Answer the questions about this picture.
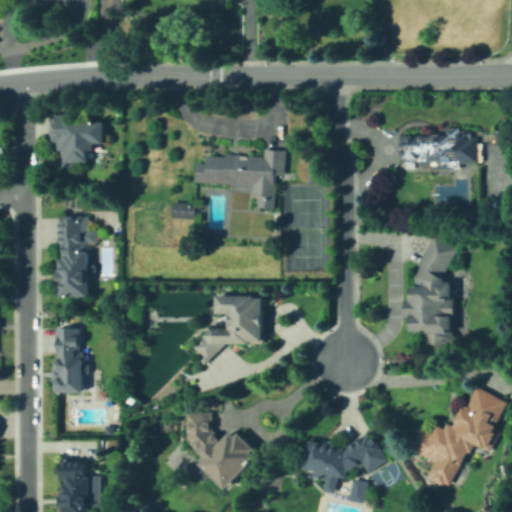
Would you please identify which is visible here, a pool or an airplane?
pool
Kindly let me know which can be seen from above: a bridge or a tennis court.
tennis court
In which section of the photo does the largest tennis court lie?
center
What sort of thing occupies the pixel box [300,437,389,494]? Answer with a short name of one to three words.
house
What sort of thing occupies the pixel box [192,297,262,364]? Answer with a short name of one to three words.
house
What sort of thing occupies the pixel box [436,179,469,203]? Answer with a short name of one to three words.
swimming pool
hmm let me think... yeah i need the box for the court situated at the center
[284,184,330,272]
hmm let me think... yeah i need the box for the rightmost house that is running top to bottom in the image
[407,237,455,350]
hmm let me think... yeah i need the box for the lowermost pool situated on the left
[75,408,108,426]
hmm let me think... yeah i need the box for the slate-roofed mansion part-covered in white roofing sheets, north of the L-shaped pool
[401,124,484,170]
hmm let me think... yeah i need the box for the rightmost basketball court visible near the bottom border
[374,462,404,488]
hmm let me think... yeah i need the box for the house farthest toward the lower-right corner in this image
[416,388,507,490]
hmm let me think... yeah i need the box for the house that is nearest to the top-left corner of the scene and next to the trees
[48,114,102,167]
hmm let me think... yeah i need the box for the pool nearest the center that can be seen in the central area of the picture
[210,195,226,230]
